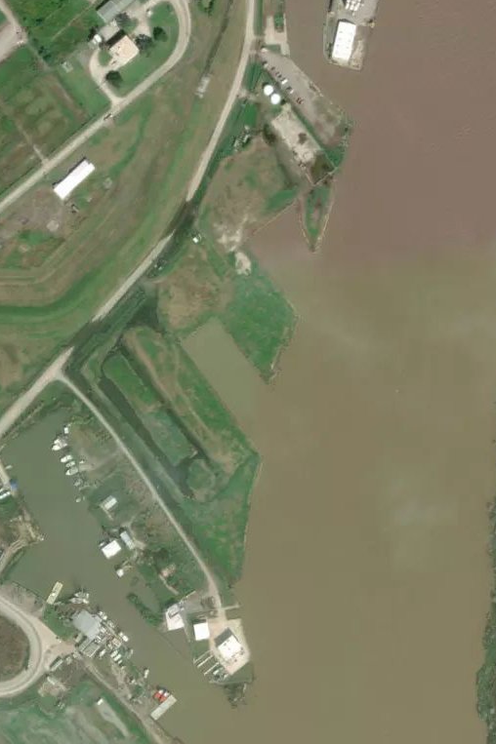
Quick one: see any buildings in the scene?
Yes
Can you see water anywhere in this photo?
Yes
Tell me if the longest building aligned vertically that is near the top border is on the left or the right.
right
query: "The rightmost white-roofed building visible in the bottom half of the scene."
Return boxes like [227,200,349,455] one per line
[217,635,242,661]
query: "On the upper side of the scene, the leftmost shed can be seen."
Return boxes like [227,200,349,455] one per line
[54,160,94,198]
